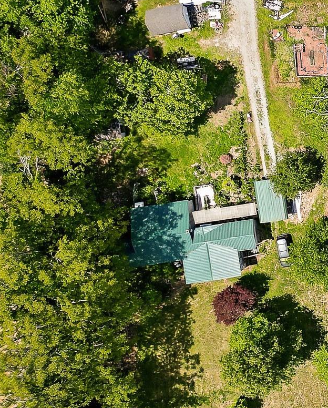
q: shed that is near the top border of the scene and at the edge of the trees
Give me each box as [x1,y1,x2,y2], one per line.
[145,4,194,37]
